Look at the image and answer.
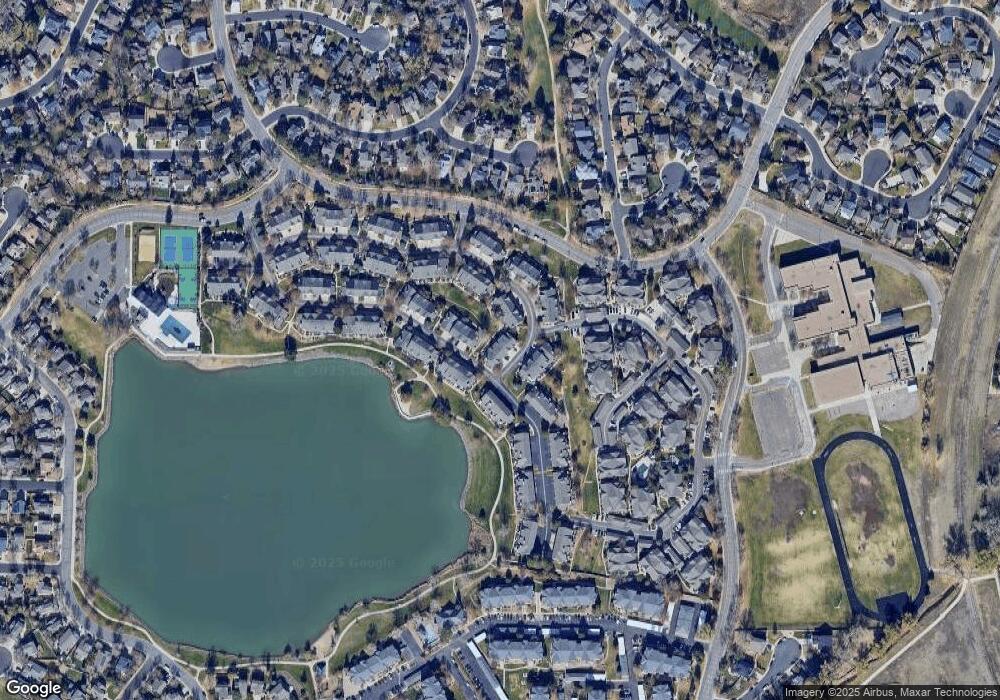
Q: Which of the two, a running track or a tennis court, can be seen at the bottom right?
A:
running track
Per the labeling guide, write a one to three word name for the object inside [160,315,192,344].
swimming pool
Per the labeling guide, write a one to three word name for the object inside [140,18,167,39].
house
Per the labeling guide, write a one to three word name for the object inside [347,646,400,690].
building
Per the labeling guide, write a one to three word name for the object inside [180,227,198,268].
tennis court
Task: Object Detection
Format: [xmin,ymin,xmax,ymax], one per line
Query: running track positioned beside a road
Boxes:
[813,432,930,627]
